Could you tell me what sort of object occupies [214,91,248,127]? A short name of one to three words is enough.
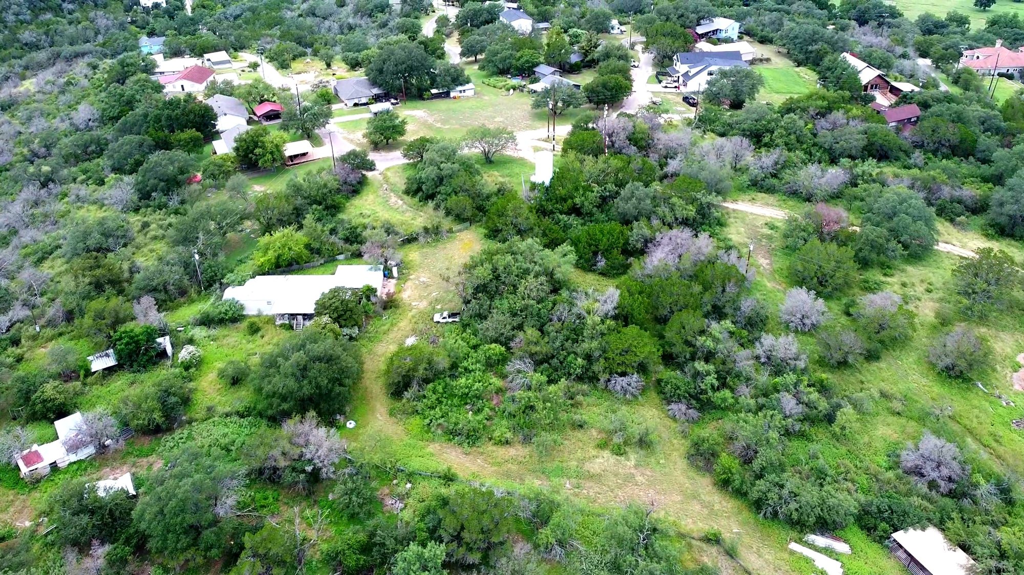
house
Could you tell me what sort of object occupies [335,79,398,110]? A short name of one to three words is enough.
house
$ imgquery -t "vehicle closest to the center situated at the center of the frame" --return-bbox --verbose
[434,311,461,323]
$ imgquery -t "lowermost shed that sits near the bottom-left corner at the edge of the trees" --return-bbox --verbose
[90,470,137,507]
